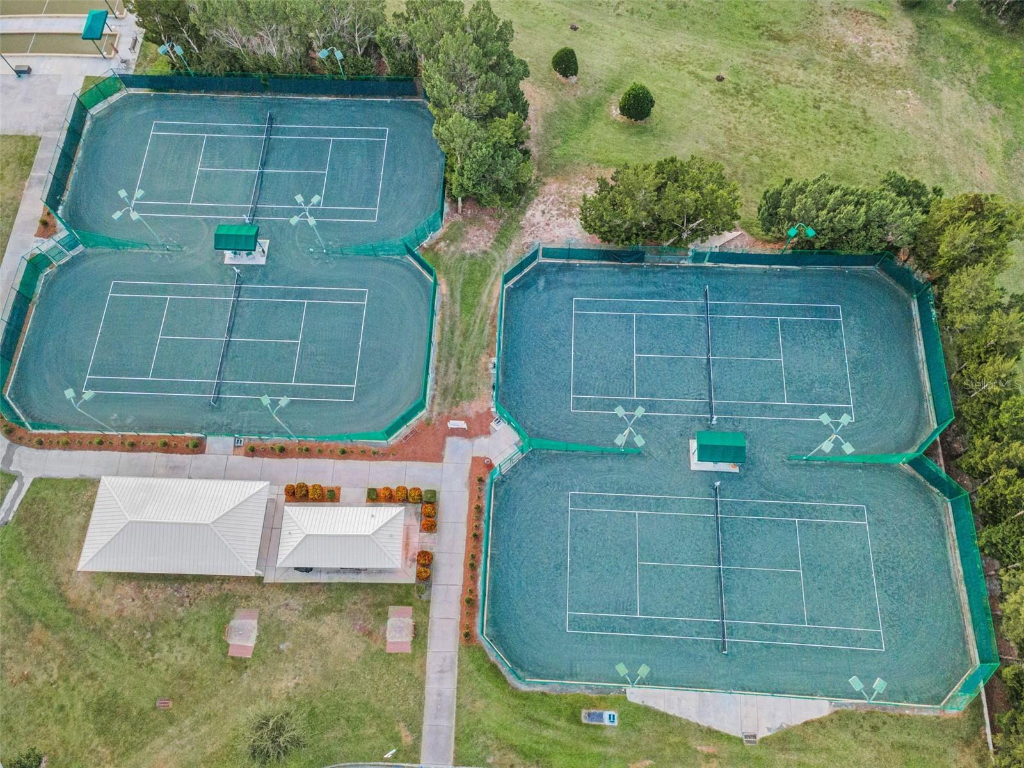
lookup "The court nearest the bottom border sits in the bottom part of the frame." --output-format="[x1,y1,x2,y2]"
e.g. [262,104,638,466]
[485,448,976,704]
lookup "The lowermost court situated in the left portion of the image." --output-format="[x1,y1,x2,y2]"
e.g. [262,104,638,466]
[9,247,433,436]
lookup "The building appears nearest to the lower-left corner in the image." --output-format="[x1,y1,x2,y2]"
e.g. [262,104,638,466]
[78,478,274,575]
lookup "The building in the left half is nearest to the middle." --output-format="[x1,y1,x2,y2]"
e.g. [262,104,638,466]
[277,504,404,569]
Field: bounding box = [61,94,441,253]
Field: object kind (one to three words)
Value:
tennis court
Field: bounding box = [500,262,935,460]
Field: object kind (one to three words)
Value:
tennis court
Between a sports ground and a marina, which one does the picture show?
sports ground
